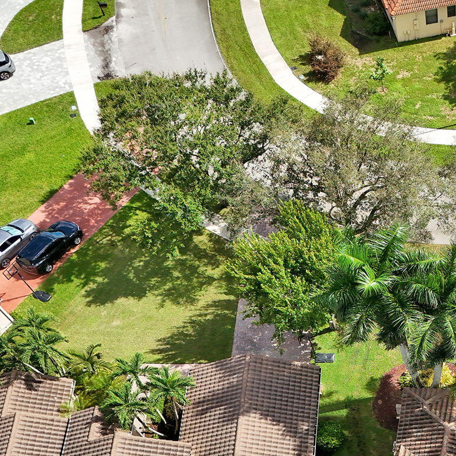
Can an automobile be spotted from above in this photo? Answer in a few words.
Yes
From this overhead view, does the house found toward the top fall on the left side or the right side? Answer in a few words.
right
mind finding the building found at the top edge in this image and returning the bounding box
[382,0,456,42]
